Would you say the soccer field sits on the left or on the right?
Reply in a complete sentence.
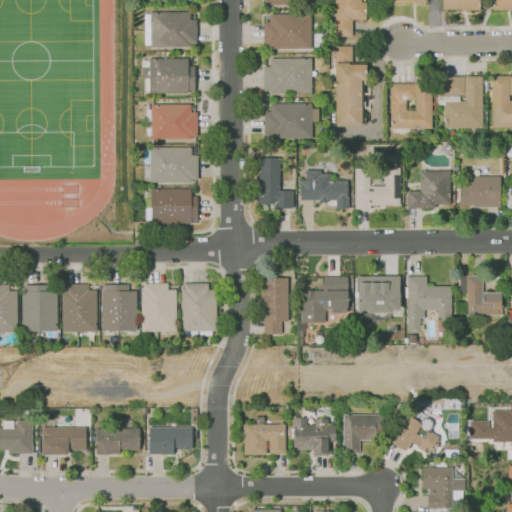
The soccer field is on the left side of the image.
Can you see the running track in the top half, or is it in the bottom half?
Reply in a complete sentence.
The running track sits in the top half of the picture.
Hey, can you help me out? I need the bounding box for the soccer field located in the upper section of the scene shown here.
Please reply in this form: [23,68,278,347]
[0,0,100,179]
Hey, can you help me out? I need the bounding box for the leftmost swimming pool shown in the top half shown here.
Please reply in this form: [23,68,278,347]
[374,146,401,167]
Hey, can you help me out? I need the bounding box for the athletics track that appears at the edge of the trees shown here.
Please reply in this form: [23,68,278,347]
[0,0,115,240]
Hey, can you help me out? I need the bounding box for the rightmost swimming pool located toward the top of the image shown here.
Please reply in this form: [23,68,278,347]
[424,154,451,168]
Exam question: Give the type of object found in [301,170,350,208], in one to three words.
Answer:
house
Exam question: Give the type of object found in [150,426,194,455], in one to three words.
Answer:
house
